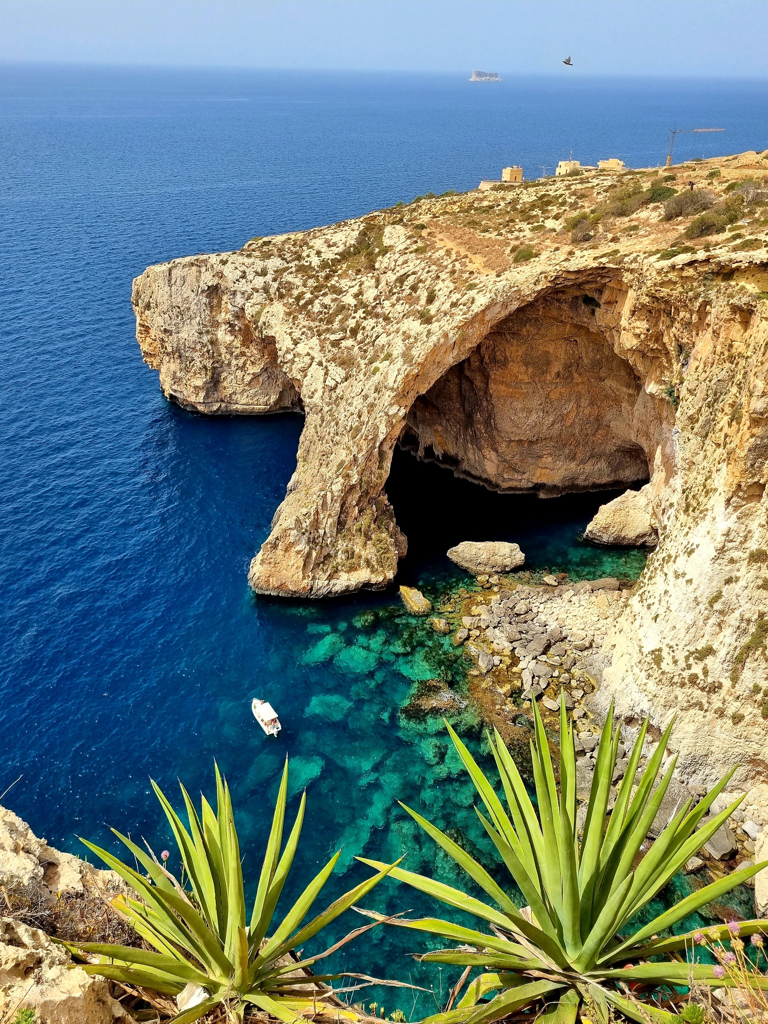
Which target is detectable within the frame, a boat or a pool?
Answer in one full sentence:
The one in the frame is a boat.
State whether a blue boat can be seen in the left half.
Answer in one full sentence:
No, in the left half there is no blue boat.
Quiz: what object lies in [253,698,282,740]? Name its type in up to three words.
boat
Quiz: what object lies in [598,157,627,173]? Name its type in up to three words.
house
